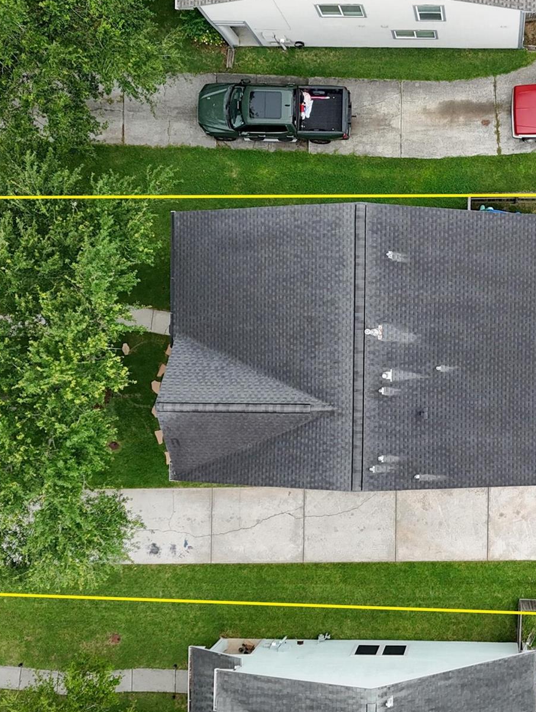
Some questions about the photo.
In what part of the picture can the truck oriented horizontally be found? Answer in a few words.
top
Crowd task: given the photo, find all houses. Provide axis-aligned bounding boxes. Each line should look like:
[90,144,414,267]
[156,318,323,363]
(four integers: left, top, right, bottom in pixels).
[174,0,536,59]
[185,634,536,712]
[155,202,536,492]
